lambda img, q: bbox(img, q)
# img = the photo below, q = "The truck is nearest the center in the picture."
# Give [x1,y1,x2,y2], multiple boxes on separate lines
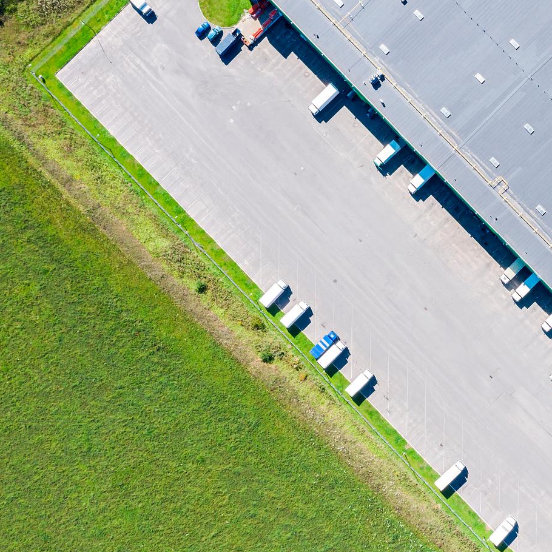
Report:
[260,278,290,307]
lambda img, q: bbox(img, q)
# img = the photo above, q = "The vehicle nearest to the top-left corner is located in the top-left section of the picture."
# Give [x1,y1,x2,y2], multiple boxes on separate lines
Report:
[131,0,154,16]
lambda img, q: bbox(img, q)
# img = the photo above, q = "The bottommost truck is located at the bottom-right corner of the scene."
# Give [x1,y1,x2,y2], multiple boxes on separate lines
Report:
[490,514,517,544]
